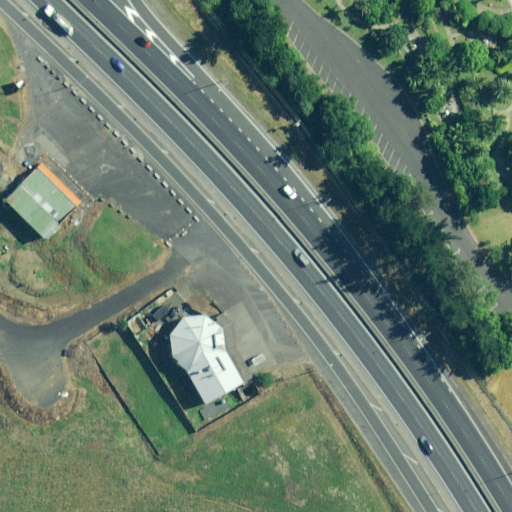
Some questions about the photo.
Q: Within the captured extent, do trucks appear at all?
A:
Yes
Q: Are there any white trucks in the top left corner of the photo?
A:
Yes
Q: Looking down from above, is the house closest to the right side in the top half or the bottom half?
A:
bottom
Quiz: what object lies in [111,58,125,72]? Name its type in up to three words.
car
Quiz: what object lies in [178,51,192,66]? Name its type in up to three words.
car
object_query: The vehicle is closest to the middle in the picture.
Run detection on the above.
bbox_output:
[295,250,309,265]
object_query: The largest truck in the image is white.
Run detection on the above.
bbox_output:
[42,2,76,36]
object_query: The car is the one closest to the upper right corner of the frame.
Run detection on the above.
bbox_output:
[282,184,296,199]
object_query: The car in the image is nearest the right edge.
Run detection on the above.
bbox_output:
[420,438,432,454]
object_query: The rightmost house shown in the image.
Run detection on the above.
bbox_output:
[166,314,244,404]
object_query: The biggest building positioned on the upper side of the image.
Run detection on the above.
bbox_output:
[2,162,81,239]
